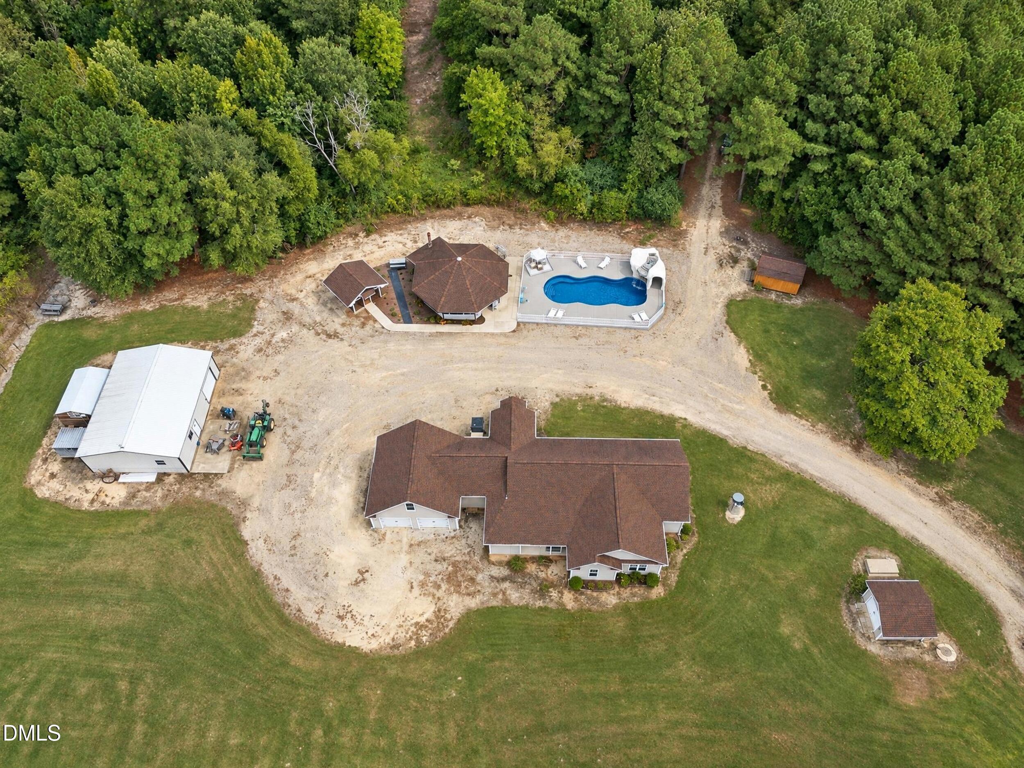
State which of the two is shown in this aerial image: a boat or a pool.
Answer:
pool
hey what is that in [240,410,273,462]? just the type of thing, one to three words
work vehicle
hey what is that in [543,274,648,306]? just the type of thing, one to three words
swimming pool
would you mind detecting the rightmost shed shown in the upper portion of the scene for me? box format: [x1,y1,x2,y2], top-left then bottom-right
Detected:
[752,248,807,299]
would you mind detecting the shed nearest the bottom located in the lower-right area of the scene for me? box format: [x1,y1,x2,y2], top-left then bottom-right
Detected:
[858,580,939,648]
